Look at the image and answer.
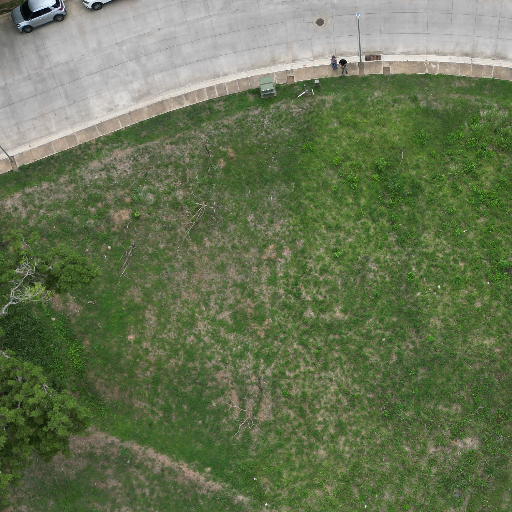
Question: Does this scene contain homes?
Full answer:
No, I find no home anywhere in the image.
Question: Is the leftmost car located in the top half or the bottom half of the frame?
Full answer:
The top half of the photo is where the leftmost car is.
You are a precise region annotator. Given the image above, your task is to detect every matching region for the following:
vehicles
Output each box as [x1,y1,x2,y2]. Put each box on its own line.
[81,0,117,11]
[10,0,67,33]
